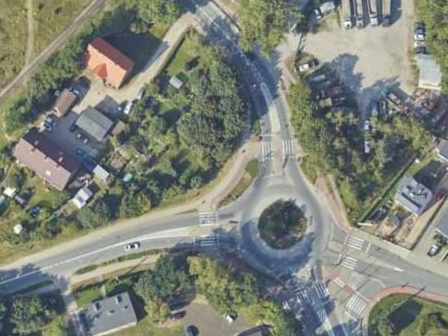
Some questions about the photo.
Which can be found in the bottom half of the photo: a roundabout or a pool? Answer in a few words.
roundabout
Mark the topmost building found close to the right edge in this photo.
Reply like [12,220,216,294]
[418,57,442,90]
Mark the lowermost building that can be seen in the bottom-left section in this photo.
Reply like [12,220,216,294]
[82,293,138,336]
